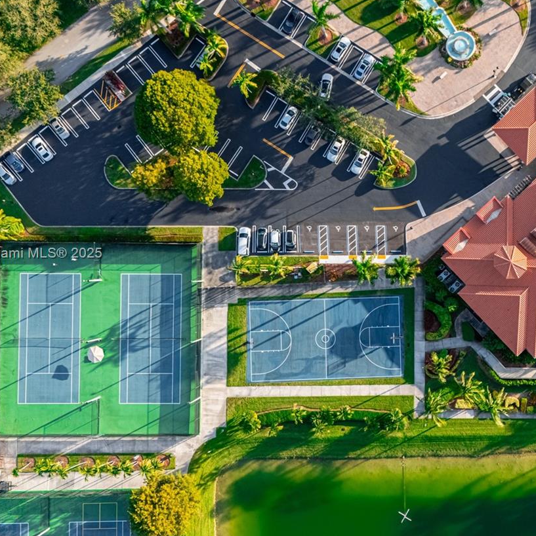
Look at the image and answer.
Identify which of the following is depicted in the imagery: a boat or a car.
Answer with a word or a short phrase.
car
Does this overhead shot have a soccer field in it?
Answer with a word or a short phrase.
No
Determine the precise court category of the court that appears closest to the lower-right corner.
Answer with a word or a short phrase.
basketball court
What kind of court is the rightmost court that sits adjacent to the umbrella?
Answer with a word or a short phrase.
tennis court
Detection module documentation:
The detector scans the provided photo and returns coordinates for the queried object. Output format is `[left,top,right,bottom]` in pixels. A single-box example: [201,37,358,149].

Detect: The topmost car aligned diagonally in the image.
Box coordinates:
[281,7,301,34]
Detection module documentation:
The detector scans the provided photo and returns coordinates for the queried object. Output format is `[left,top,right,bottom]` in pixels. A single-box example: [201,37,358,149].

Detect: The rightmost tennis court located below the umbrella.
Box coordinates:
[50,495,147,536]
